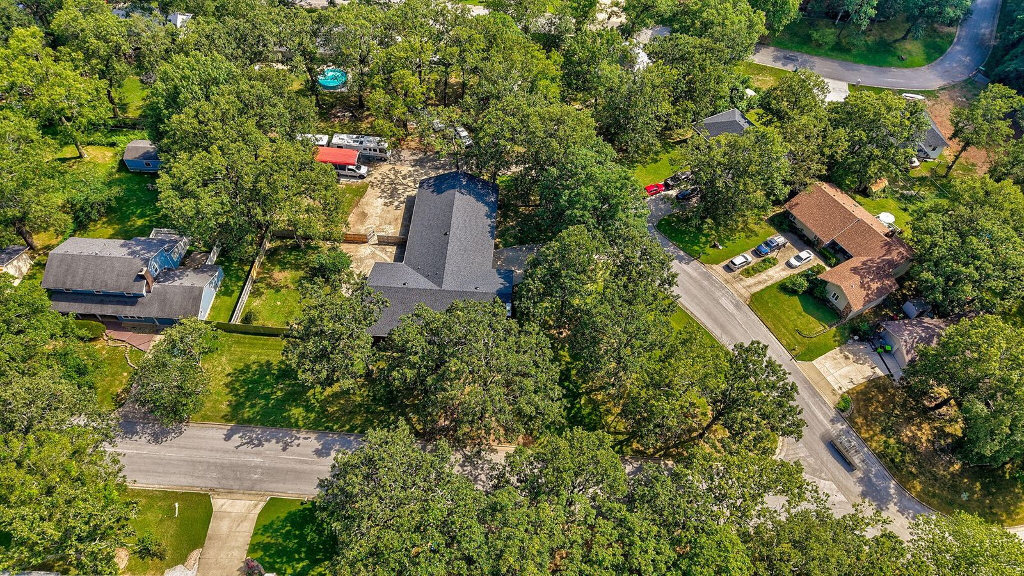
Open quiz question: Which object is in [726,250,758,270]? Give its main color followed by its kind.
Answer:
white car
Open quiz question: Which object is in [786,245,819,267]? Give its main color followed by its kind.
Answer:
white car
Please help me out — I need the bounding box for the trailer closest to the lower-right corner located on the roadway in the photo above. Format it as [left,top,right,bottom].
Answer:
[829,428,873,472]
